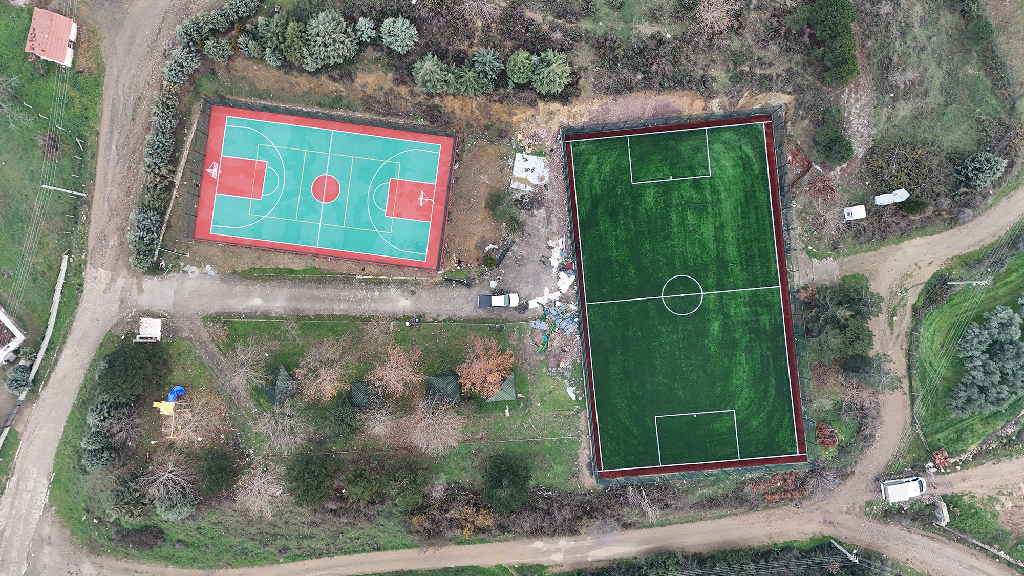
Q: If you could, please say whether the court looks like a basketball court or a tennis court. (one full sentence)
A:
It turns out the court is a basketball court.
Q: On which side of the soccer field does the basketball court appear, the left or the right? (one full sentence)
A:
Relative to the soccer field, the basketball court lies to the left.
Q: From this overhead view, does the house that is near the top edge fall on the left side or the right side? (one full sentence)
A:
The house that is near the top edge appears in the left half of the scene.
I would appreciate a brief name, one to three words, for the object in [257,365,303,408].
building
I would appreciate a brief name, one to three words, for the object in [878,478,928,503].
truck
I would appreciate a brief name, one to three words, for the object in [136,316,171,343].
shed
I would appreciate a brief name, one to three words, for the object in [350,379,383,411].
building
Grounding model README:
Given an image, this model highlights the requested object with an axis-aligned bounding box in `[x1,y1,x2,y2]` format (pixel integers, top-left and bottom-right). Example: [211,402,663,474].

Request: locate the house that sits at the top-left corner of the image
[23,7,84,67]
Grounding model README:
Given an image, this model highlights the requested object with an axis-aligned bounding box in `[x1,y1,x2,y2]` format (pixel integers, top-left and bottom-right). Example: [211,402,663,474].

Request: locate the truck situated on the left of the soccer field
[477,287,519,309]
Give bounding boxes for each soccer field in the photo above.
[566,115,806,478]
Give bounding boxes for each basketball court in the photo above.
[194,106,456,271]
